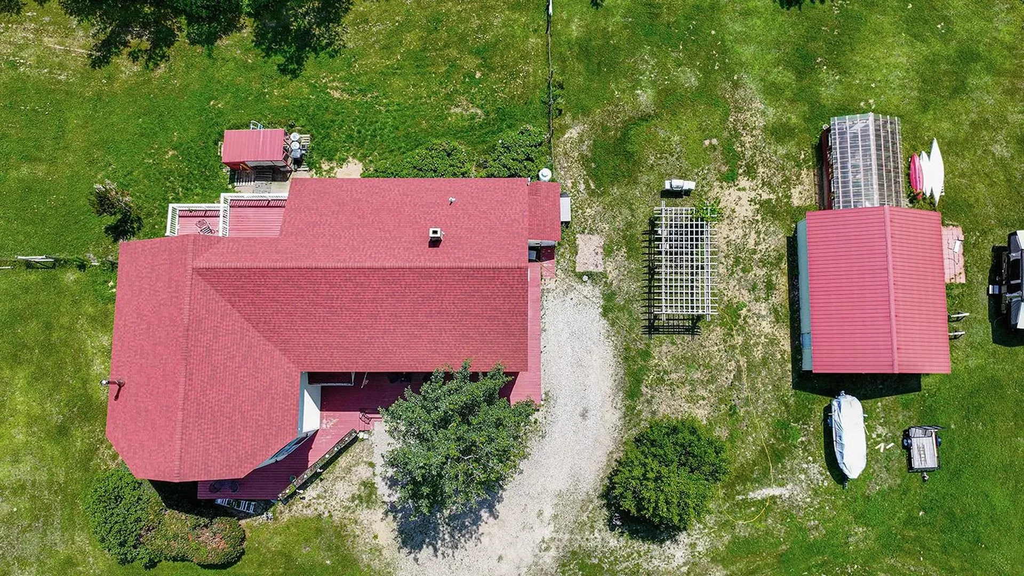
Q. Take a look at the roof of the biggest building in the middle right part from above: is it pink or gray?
pink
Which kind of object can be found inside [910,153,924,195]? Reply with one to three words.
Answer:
boat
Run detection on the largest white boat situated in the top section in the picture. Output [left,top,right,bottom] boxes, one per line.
[927,138,945,205]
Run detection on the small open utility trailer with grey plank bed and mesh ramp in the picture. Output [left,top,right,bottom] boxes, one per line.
[900,430,944,491]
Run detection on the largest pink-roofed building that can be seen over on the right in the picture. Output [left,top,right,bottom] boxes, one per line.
[797,205,952,374]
